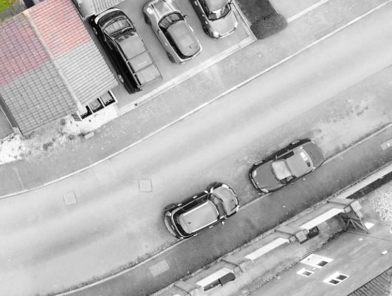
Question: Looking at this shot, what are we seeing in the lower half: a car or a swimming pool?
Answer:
car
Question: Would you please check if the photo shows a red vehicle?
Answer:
No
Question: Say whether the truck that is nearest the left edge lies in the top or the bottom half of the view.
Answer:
top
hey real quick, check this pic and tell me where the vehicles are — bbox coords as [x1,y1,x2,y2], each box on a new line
[143,0,201,66]
[249,140,335,198]
[91,7,168,97]
[163,185,243,244]
[188,0,238,40]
